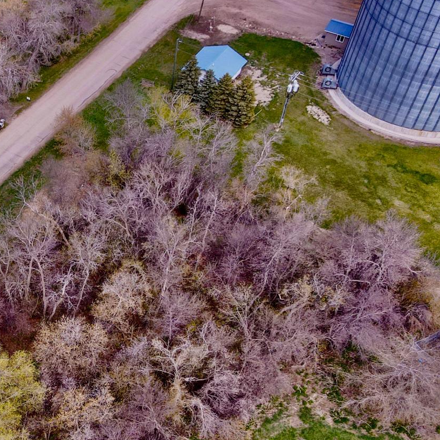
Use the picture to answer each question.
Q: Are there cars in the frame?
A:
No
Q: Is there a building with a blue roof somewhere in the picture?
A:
Yes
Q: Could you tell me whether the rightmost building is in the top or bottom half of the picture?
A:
top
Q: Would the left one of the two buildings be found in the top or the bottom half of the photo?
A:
top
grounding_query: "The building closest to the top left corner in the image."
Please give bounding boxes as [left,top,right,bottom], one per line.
[176,42,247,82]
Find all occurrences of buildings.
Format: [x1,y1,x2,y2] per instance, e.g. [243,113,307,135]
[324,20,357,52]
[176,42,247,82]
